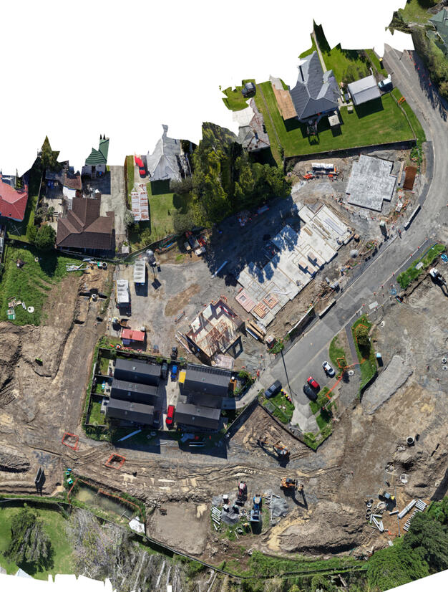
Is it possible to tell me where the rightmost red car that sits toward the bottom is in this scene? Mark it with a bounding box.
[306,375,319,389]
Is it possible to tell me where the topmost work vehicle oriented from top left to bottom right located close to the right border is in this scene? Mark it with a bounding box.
[427,266,448,287]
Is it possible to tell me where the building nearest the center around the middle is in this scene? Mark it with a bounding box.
[185,300,244,358]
